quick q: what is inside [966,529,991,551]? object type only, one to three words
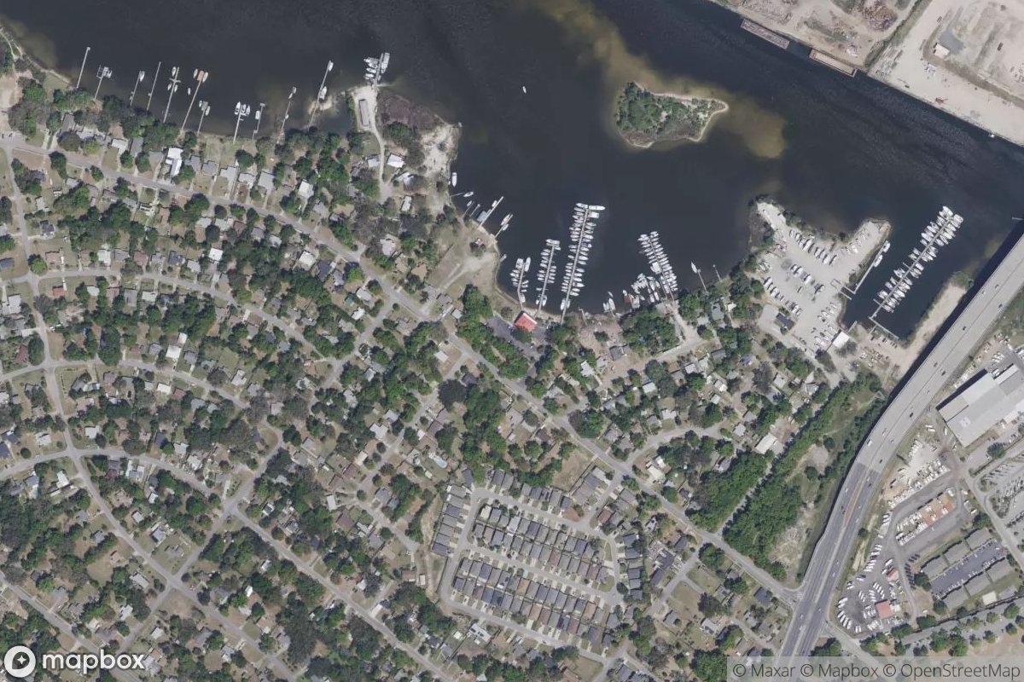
building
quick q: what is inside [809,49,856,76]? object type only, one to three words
ship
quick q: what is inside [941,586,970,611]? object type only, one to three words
building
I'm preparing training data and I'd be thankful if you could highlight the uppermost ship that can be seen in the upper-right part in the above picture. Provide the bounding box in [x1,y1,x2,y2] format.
[741,19,790,49]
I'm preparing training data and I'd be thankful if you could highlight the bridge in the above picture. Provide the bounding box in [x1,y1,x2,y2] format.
[853,236,1024,480]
